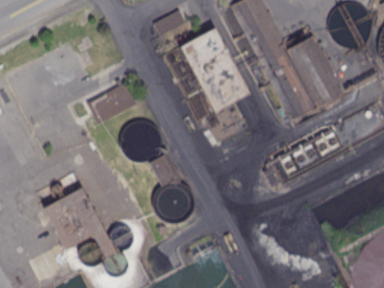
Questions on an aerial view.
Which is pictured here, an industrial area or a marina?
industrial area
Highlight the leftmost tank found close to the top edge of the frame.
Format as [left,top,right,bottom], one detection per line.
[326,0,374,52]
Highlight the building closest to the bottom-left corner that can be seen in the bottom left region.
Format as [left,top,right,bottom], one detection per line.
[42,189,118,262]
